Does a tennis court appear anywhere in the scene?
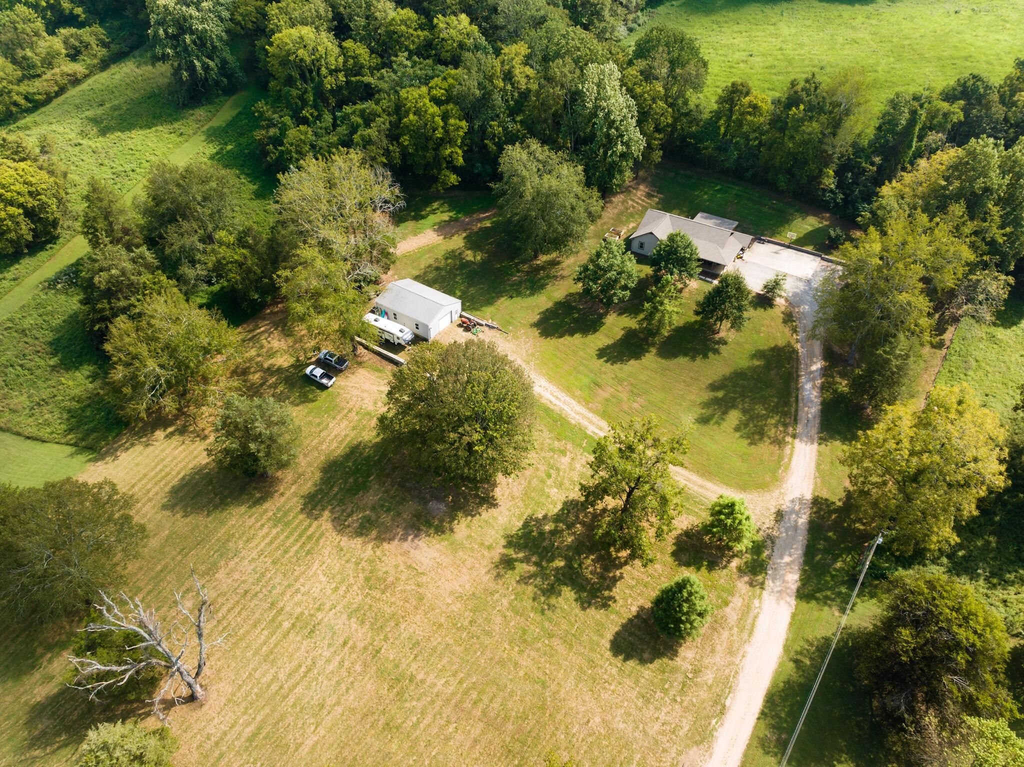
No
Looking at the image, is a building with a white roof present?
Yes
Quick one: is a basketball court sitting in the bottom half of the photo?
No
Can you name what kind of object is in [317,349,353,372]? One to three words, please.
truck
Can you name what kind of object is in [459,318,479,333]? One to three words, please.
work vehicle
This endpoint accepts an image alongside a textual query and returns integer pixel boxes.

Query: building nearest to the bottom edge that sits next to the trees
[374,278,462,341]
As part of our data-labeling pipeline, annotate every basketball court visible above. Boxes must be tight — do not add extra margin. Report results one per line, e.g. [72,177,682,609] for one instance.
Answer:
[744,242,819,280]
